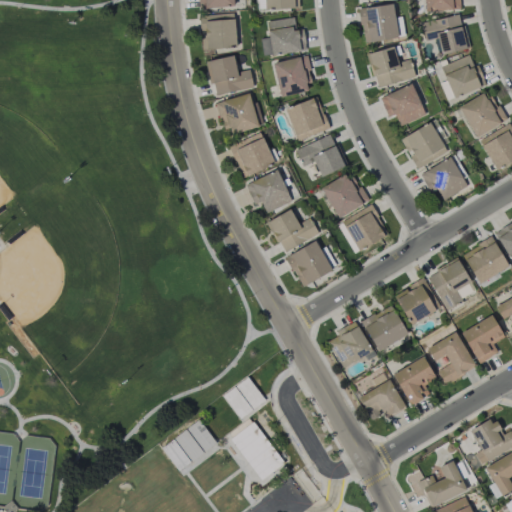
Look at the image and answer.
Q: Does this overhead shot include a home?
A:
Yes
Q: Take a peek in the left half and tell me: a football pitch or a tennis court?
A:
tennis court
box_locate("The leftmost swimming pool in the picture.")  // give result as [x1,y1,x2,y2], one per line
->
[276,114,292,136]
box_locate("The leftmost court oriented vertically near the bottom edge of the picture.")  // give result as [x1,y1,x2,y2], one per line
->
[0,432,20,504]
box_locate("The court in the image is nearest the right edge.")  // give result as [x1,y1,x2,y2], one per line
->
[16,436,57,508]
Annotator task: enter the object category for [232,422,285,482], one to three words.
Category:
building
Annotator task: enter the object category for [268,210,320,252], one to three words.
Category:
house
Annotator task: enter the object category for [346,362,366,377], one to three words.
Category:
swimming pool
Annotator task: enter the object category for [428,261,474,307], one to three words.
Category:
house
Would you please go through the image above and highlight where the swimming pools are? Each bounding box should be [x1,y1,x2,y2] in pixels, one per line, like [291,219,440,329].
[424,43,432,58]
[346,362,366,377]
[276,114,292,136]
[415,320,436,332]
[406,42,417,57]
